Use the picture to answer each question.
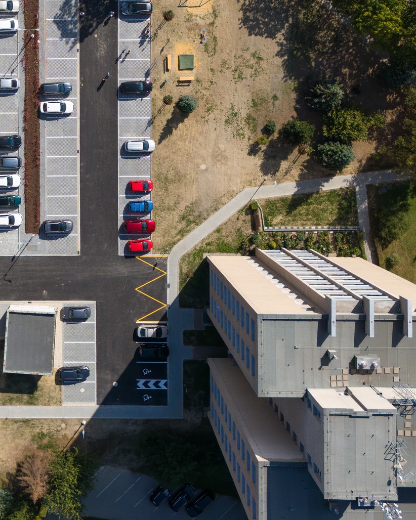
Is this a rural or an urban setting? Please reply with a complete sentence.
The area is urban.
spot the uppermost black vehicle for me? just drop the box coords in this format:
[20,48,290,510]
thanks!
[120,1,154,16]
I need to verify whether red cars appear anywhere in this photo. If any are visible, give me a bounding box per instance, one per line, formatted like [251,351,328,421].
[128,237,155,254]
[128,178,154,194]
[123,218,157,236]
